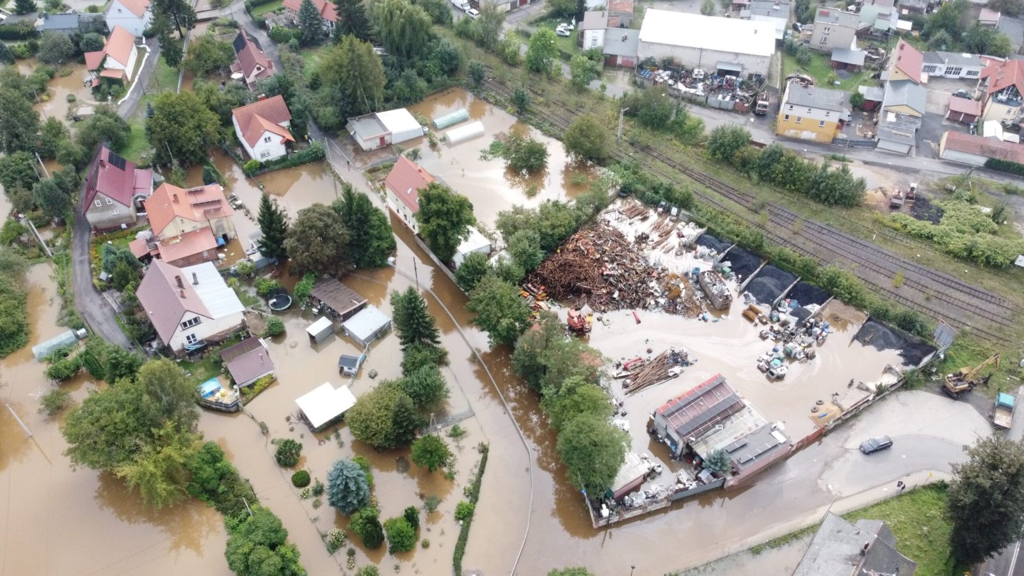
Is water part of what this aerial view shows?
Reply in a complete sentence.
Yes, water shows up in the scene.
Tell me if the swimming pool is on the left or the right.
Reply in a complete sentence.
It is on the left.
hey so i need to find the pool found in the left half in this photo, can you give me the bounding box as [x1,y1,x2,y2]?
[199,379,225,399]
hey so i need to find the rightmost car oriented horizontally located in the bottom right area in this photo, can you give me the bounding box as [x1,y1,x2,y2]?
[860,435,894,453]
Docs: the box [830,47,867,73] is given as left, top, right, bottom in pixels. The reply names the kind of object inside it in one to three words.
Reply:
building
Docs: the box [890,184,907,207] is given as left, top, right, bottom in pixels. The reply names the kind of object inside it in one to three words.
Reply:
vehicle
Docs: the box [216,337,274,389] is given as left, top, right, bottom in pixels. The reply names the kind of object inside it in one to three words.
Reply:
shed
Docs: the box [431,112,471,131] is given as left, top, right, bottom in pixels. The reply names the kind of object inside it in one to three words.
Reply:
greenhouse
